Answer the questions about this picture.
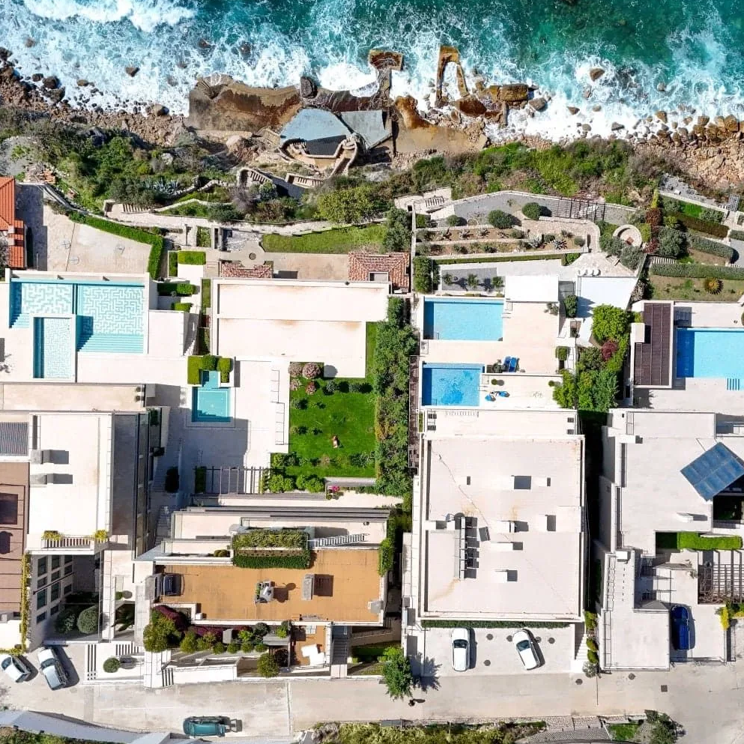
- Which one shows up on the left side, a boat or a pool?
pool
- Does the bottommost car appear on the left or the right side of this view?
left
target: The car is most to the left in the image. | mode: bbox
[0,652,36,687]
